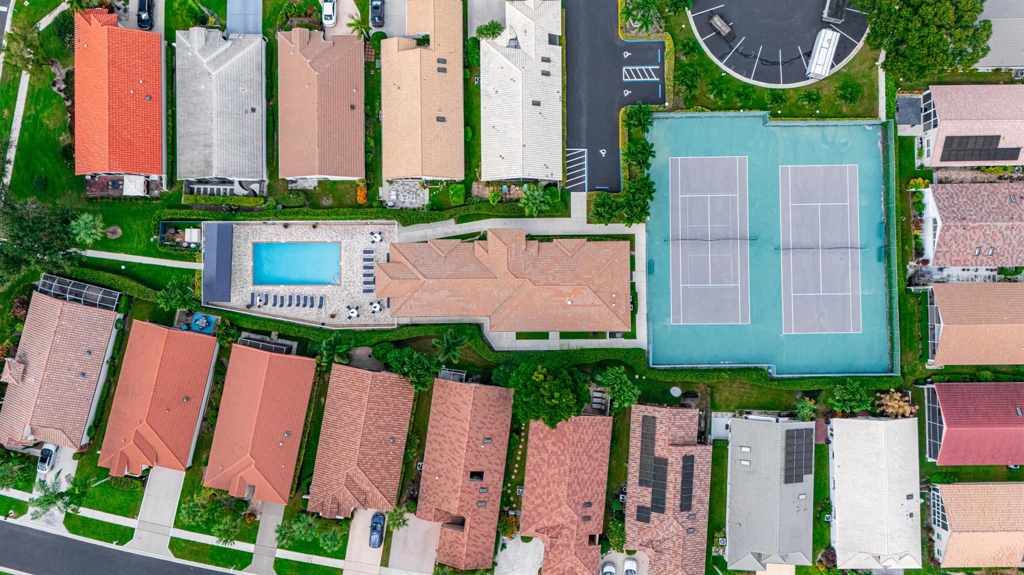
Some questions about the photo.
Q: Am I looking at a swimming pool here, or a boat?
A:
swimming pool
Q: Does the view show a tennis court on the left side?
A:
No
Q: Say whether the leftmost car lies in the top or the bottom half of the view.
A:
bottom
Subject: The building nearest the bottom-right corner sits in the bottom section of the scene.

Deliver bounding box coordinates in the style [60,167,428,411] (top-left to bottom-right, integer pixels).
[934,482,1024,569]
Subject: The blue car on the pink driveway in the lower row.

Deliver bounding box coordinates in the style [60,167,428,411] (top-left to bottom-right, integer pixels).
[369,512,386,548]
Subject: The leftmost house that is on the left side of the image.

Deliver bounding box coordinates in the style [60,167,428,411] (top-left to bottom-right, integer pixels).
[0,291,120,450]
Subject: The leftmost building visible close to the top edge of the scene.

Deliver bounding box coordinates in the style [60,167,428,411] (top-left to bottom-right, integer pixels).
[74,8,168,176]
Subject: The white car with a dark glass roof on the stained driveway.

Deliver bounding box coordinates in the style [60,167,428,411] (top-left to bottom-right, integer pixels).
[37,442,59,474]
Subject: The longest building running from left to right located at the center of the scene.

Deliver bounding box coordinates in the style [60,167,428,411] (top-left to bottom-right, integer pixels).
[375,228,630,332]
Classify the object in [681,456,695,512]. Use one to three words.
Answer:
solar panel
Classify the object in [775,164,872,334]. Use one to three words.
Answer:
tennis court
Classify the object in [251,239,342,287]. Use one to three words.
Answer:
swimming pool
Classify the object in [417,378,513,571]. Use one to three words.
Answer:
house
